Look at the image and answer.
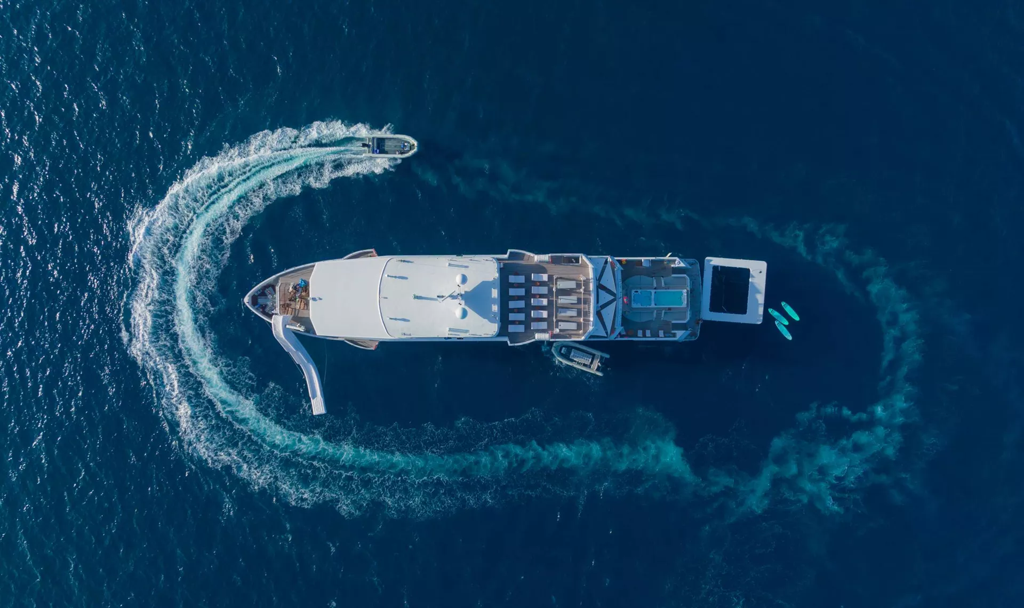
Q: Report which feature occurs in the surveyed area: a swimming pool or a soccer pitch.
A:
swimming pool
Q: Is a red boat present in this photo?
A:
No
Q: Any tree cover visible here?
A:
No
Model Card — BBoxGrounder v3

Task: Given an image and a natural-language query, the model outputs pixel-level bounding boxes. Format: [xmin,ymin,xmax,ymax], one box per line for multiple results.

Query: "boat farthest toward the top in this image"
[360,134,417,158]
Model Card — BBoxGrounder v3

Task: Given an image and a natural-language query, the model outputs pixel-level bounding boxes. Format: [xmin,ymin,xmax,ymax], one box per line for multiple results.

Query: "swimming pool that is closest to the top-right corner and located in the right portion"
[701,257,767,324]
